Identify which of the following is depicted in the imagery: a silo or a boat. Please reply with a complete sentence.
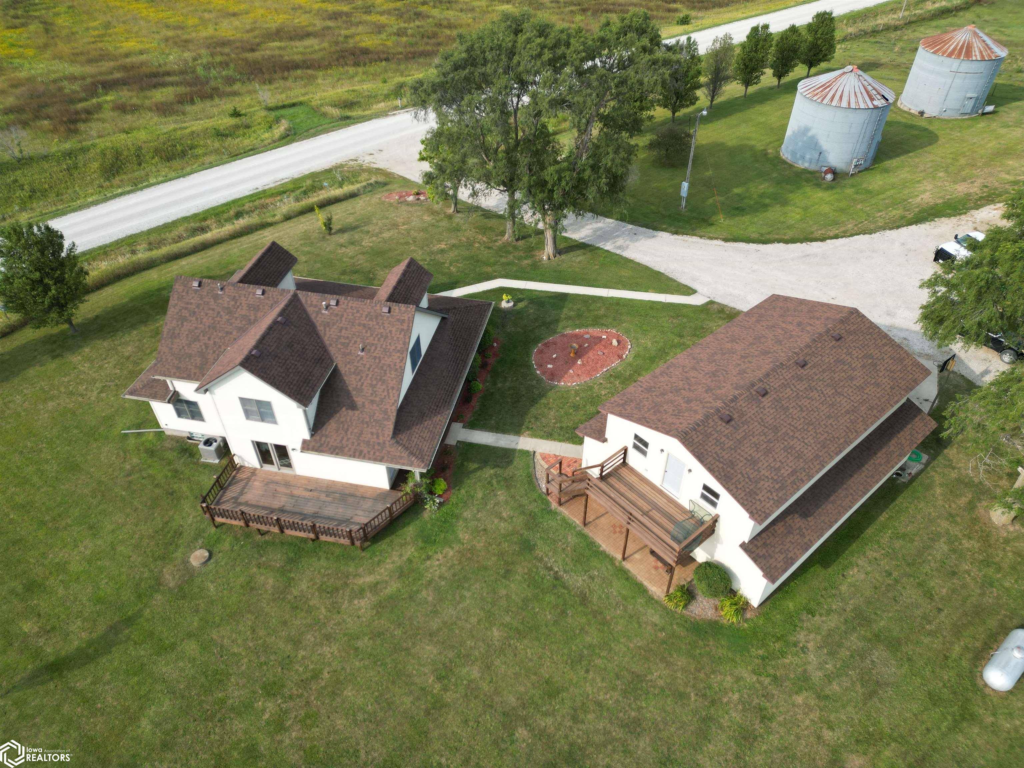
There is a silo in the scene.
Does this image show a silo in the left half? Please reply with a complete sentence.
No, there's no silo to be seen in the left half.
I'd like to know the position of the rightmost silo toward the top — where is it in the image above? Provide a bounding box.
[897,23,1010,120]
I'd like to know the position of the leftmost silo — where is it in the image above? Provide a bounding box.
[779,66,896,174]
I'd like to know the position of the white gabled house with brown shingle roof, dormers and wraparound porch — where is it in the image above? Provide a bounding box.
[119,241,497,501]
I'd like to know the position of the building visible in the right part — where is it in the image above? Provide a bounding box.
[575,293,938,607]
